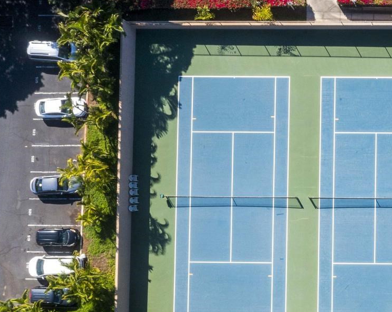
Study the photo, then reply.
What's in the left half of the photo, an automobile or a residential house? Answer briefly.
automobile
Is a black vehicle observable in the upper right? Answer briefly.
No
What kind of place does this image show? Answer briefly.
sports ground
